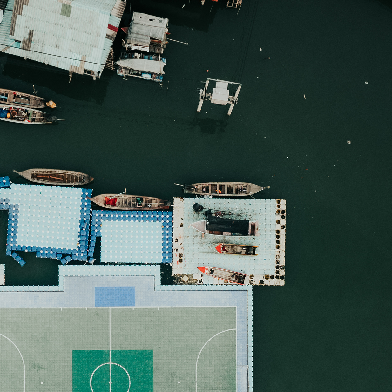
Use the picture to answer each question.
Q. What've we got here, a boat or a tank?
boat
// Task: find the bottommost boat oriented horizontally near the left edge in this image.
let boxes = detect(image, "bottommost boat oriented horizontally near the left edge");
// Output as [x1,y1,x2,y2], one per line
[12,168,93,185]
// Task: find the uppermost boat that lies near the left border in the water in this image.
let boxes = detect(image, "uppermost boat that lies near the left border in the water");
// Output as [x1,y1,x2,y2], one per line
[0,87,48,108]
